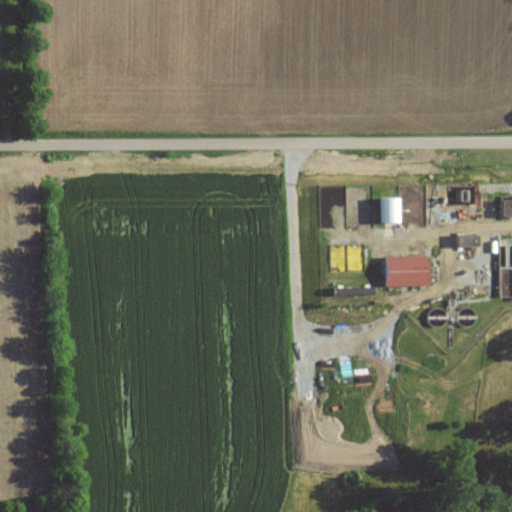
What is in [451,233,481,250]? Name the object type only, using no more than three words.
building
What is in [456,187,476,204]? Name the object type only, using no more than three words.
building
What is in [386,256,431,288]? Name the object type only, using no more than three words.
barn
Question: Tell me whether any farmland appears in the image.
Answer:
Yes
